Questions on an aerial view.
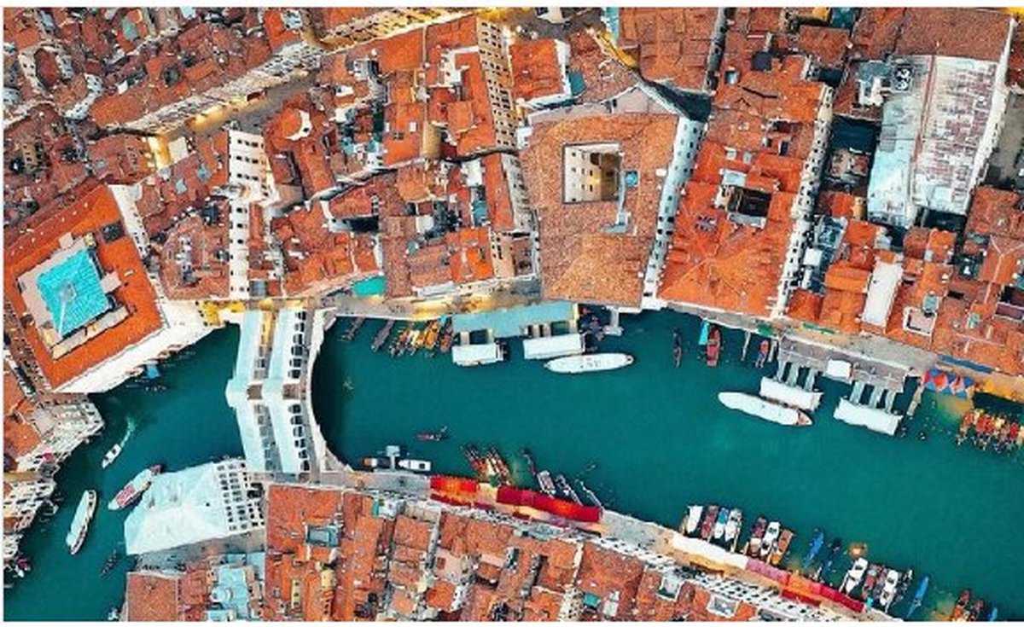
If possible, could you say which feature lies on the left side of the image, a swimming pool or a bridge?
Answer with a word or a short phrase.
bridge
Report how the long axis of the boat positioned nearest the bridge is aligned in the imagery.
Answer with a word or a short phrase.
diagonally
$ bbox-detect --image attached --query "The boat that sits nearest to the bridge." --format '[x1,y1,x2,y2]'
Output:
[341,317,365,340]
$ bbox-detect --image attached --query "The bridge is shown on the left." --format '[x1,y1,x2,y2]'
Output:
[221,300,340,483]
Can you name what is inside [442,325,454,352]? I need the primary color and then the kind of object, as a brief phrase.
red boat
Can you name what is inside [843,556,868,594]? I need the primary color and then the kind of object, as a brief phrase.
white boat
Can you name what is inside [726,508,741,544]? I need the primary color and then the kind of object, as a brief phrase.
white boat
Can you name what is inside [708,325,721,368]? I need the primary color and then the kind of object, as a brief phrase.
red boat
